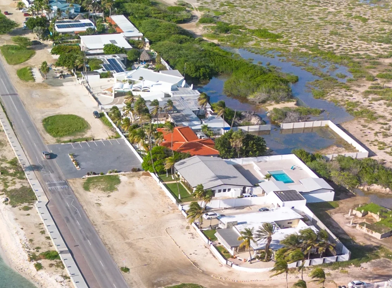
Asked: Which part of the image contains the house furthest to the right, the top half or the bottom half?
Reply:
bottom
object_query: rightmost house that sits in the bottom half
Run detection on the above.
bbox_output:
[295,177,335,203]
